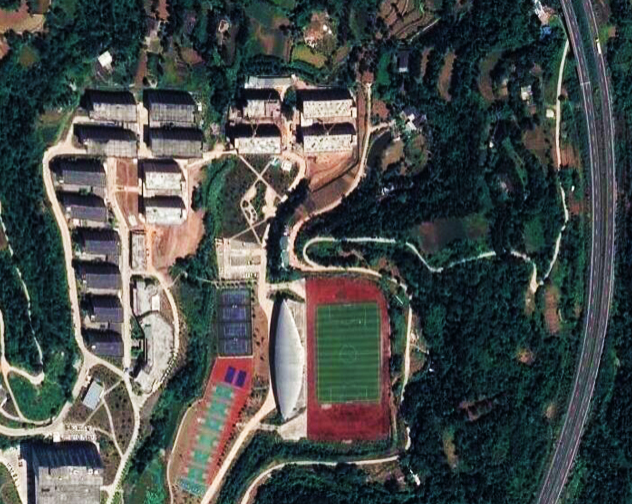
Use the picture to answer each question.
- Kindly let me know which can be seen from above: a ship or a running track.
running track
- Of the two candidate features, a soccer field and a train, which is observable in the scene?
soccer field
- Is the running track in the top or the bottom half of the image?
bottom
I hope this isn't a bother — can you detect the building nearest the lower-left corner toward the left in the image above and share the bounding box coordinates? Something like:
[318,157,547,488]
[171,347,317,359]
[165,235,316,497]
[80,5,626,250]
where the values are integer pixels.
[33,449,104,504]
